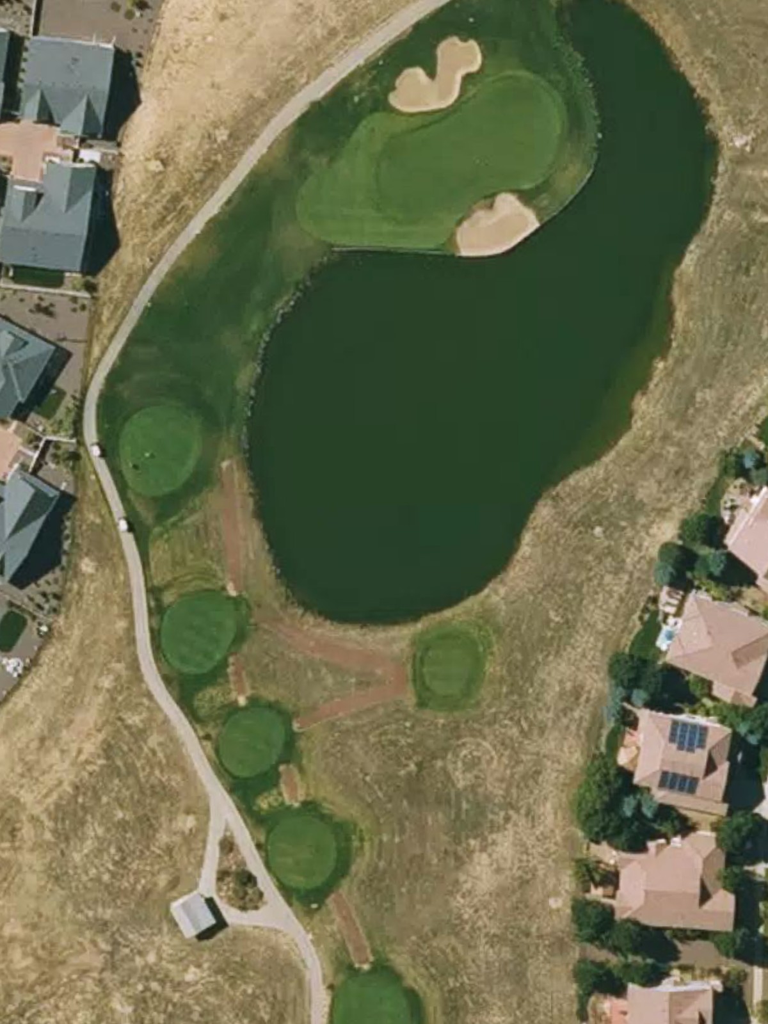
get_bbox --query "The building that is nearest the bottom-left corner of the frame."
[170,891,215,938]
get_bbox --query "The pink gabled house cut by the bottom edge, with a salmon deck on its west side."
[628,978,712,1024]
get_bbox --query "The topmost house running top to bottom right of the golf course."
[723,476,768,584]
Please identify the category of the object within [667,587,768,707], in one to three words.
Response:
house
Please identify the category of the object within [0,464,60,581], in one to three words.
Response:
house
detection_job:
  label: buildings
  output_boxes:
[0,164,97,273]
[0,29,9,119]
[723,476,768,584]
[633,704,732,816]
[615,824,735,932]
[0,316,57,418]
[667,587,768,707]
[170,891,215,938]
[20,36,114,136]
[0,464,60,581]
[628,978,712,1024]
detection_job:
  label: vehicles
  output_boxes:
[91,443,101,457]
[119,518,129,532]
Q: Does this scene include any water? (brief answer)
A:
Yes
